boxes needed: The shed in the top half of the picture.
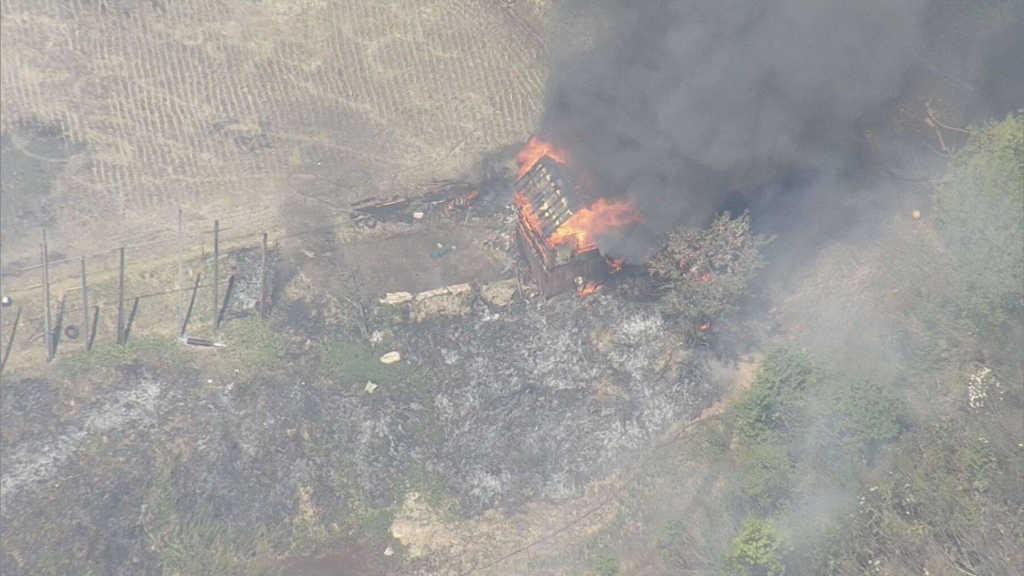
[511,153,606,300]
